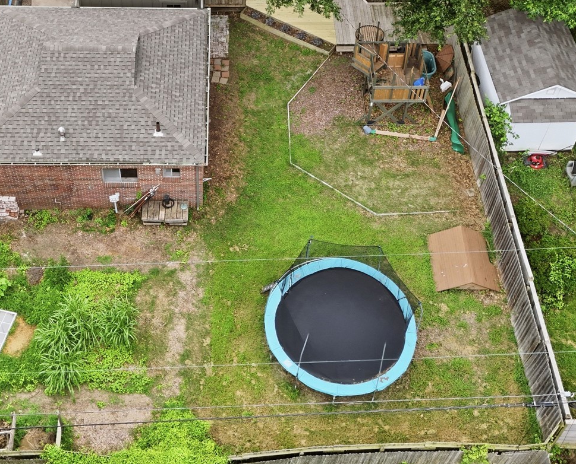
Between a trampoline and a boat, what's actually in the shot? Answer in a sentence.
Looking from above, you can make out a trampoline.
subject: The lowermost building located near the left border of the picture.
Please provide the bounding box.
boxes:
[0,4,214,206]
